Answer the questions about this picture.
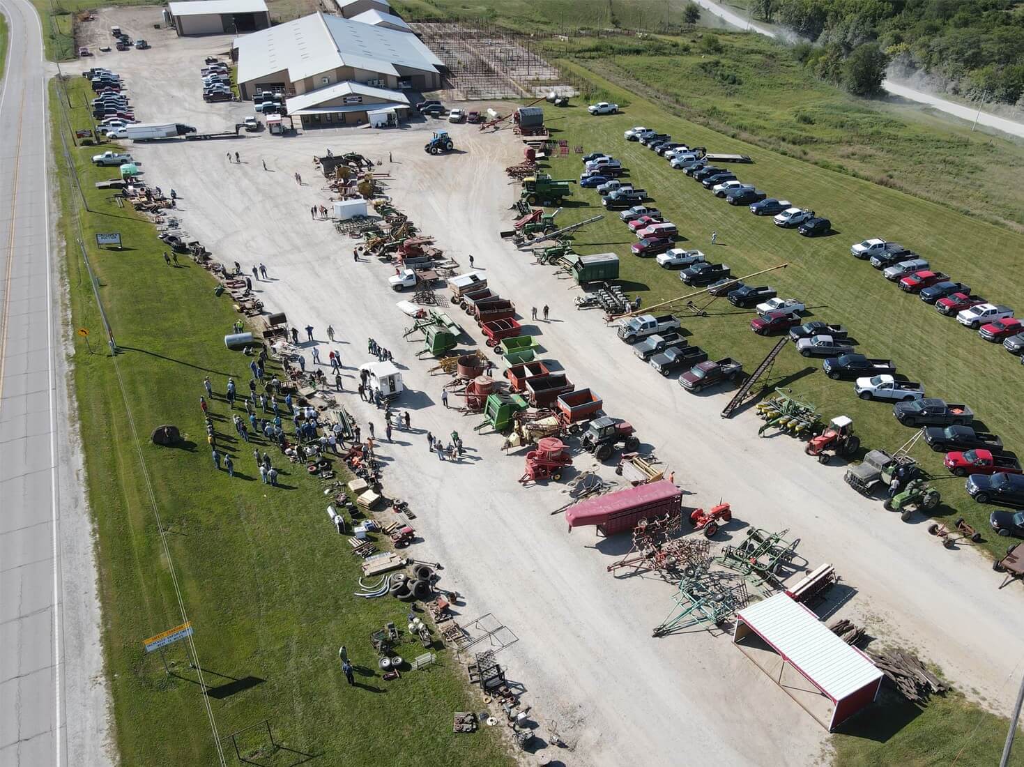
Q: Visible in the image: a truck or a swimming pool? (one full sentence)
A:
The one in the frame is a truck.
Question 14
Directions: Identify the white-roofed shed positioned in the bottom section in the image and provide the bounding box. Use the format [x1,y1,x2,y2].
[729,589,886,733]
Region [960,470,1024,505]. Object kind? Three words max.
car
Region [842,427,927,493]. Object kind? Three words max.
truck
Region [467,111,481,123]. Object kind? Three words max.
vehicle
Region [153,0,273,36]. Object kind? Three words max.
shed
